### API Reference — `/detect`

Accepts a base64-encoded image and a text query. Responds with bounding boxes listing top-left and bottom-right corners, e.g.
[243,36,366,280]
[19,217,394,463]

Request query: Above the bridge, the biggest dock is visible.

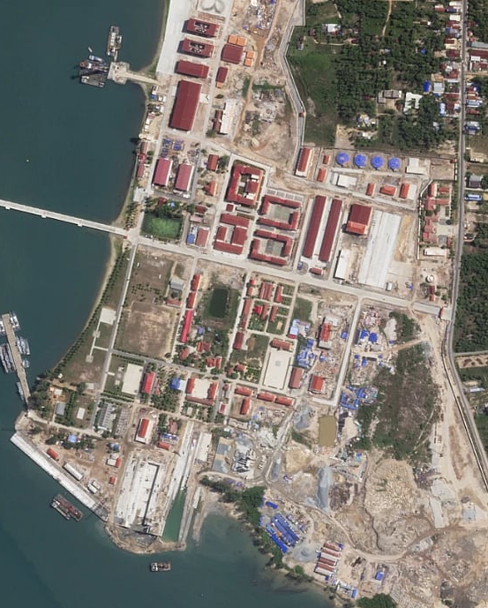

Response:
[108,61,158,84]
